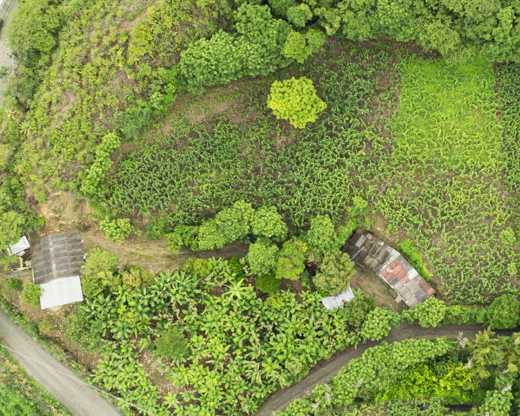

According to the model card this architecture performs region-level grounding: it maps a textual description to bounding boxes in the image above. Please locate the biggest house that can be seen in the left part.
[28,231,88,310]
